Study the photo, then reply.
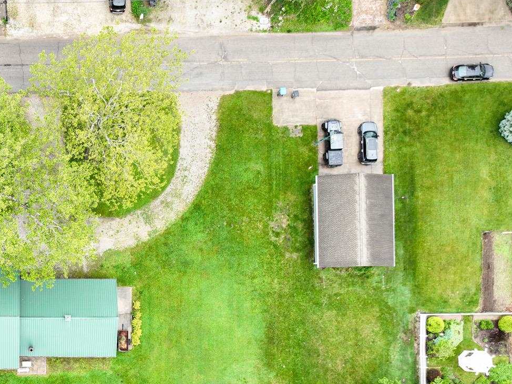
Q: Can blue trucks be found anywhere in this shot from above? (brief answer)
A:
No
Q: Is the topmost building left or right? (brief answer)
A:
right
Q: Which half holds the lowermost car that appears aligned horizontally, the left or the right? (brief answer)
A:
right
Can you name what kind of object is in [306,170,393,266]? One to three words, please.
building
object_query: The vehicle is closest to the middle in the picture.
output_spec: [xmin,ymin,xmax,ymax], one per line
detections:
[321,119,345,169]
